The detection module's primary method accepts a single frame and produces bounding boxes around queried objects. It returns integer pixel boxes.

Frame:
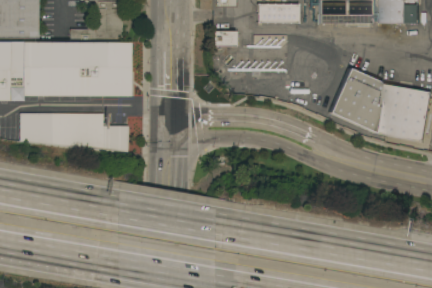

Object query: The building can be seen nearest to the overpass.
[20,113,128,152]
